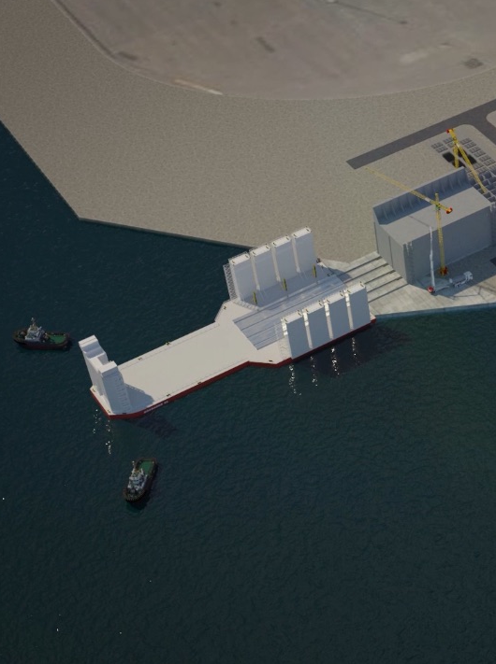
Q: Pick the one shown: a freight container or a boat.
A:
boat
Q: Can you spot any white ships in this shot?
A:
Yes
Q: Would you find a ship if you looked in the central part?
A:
Yes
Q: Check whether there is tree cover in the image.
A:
No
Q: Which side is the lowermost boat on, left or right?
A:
left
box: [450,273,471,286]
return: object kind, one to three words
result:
vehicle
